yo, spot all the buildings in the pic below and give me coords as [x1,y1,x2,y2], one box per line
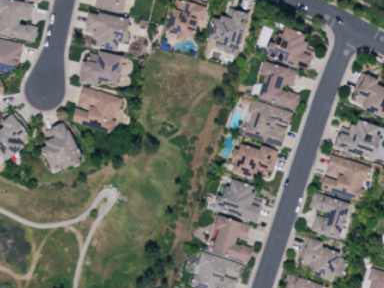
[216,179,263,221]
[0,38,23,72]
[96,0,126,12]
[0,0,38,40]
[80,52,122,86]
[42,122,82,172]
[72,86,123,129]
[300,237,348,282]
[284,274,325,288]
[86,11,130,50]
[259,61,300,110]
[322,155,372,200]
[209,7,250,51]
[242,100,294,146]
[233,142,278,177]
[194,252,244,288]
[311,192,355,238]
[258,25,274,49]
[355,72,384,115]
[334,120,384,161]
[268,28,314,68]
[0,114,30,158]
[213,214,254,262]
[166,0,209,39]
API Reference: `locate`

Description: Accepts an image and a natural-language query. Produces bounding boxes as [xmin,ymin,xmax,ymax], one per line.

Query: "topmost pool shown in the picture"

[174,40,196,52]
